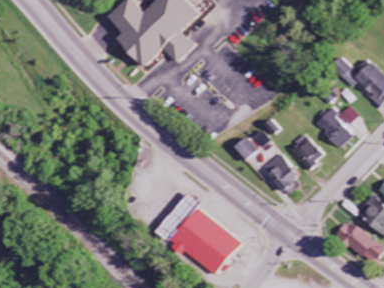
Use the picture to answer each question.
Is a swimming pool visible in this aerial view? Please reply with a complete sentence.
No, I find no swimming pool anywhere in the image.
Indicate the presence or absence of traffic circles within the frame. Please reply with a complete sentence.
No, no traffic circle is visible in the view.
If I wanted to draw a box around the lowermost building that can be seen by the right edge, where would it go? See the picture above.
[340,222,384,260]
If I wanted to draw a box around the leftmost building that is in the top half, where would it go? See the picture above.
[108,0,220,67]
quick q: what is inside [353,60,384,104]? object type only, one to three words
house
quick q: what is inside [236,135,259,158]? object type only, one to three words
building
